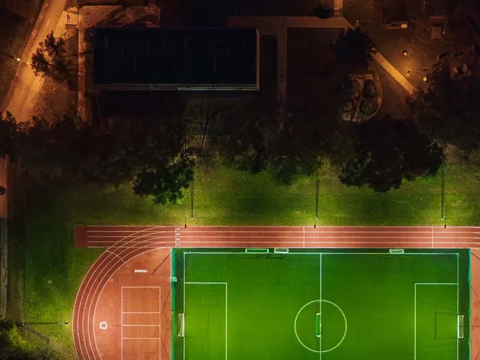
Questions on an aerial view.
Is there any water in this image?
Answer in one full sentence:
No, the scene doesn't show any water.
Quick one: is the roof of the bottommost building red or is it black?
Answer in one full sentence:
The color of the roof of the bottommost building is black.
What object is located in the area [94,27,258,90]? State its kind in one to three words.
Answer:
building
